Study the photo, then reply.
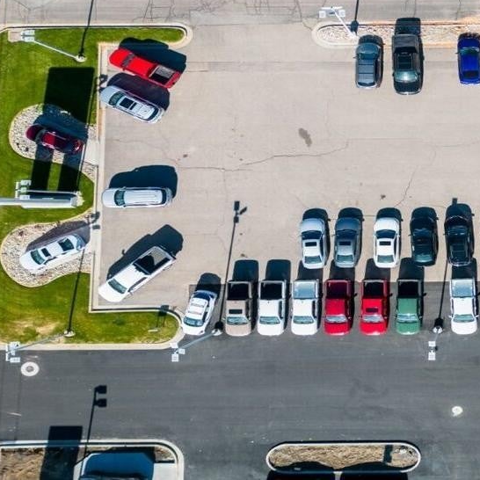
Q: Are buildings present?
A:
No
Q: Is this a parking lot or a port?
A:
parking lot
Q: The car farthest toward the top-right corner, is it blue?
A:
Yes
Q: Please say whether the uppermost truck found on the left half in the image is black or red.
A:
red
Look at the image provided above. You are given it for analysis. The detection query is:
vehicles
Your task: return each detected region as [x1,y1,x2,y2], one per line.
[373,215,402,266]
[298,216,329,267]
[409,215,438,266]
[24,124,85,153]
[220,277,254,336]
[391,30,424,93]
[352,38,382,88]
[288,277,320,336]
[445,214,475,265]
[449,277,480,336]
[96,249,182,297]
[322,277,353,336]
[18,237,87,269]
[456,38,480,86]
[332,216,362,267]
[179,289,217,337]
[98,87,166,121]
[392,277,424,336]
[101,186,173,211]
[359,277,389,336]
[106,50,184,88]
[255,275,287,336]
